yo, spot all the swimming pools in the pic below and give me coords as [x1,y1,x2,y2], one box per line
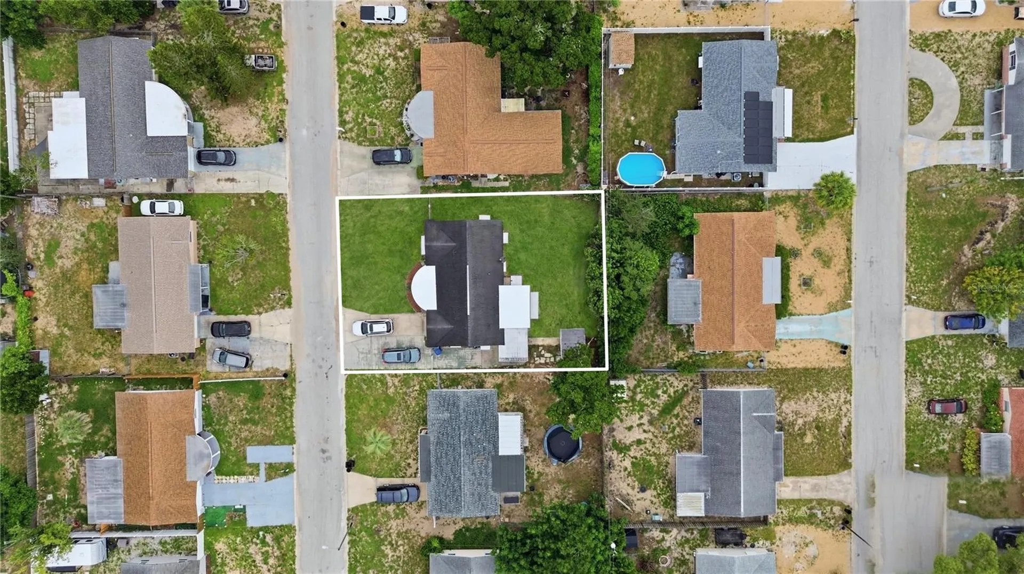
[615,152,667,187]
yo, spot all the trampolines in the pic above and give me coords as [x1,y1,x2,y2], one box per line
[544,425,581,467]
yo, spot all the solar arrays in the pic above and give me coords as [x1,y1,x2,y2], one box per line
[741,91,772,164]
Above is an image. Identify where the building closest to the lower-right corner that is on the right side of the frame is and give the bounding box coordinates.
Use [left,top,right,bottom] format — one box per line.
[967,387,1024,480]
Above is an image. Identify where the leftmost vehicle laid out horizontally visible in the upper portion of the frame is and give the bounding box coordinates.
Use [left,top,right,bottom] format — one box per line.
[142,198,186,216]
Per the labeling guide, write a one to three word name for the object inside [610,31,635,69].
shed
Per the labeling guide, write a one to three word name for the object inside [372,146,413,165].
car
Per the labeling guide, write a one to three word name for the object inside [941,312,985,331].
car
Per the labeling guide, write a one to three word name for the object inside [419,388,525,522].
house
